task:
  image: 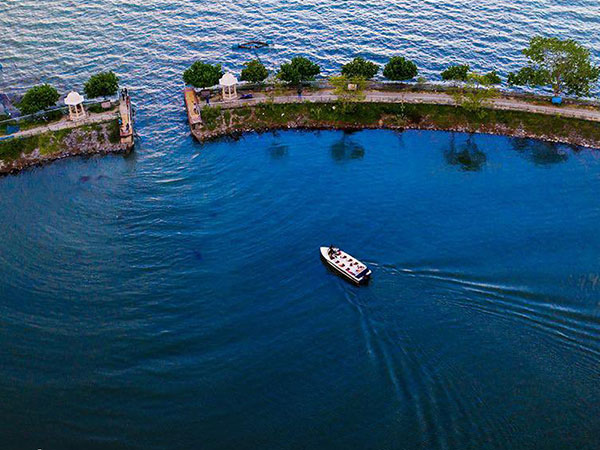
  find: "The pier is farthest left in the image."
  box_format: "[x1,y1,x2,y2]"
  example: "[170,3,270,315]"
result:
[117,93,137,148]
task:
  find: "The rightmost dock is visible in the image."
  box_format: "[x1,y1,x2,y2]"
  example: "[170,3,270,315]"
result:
[182,87,207,137]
